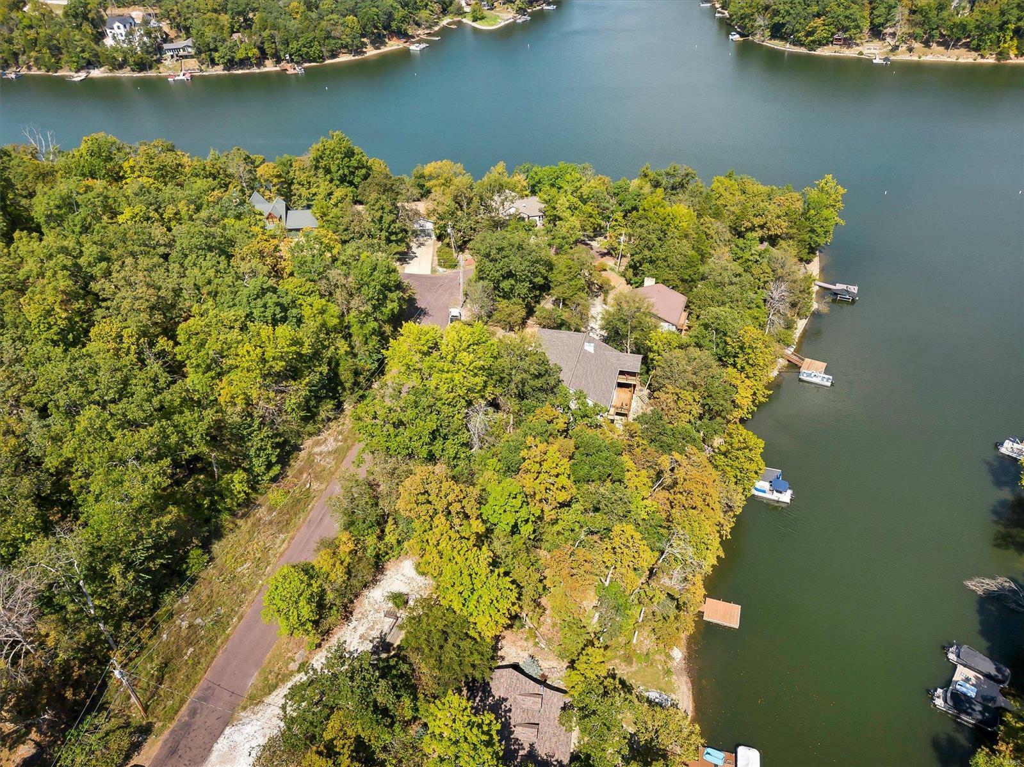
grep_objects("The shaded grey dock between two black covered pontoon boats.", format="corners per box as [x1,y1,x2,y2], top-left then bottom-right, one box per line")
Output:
[951,665,1014,708]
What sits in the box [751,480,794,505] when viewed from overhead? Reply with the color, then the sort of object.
white boat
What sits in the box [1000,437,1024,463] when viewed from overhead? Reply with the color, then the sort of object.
white boat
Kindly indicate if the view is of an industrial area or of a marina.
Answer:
marina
